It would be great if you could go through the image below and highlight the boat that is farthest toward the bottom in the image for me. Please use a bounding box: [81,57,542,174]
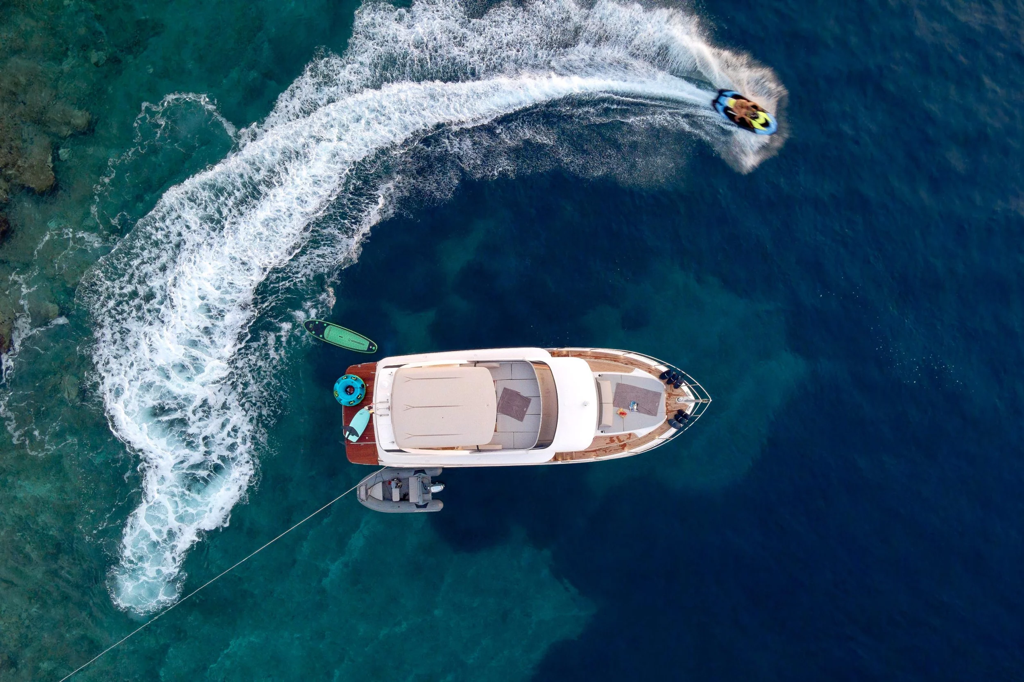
[356,467,444,513]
